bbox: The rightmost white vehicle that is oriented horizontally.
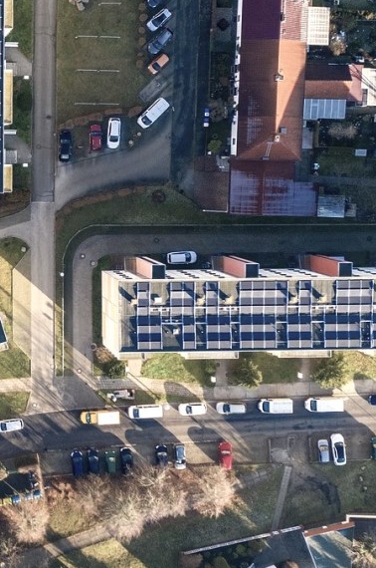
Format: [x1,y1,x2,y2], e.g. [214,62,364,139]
[304,396,346,415]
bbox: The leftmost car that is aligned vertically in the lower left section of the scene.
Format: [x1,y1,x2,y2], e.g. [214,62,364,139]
[70,449,84,477]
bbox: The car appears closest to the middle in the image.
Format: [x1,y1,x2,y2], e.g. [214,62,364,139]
[165,250,196,265]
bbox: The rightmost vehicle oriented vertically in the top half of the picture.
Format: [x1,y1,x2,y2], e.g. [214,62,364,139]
[107,117,122,149]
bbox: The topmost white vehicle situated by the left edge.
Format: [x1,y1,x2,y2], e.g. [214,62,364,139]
[0,418,24,434]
